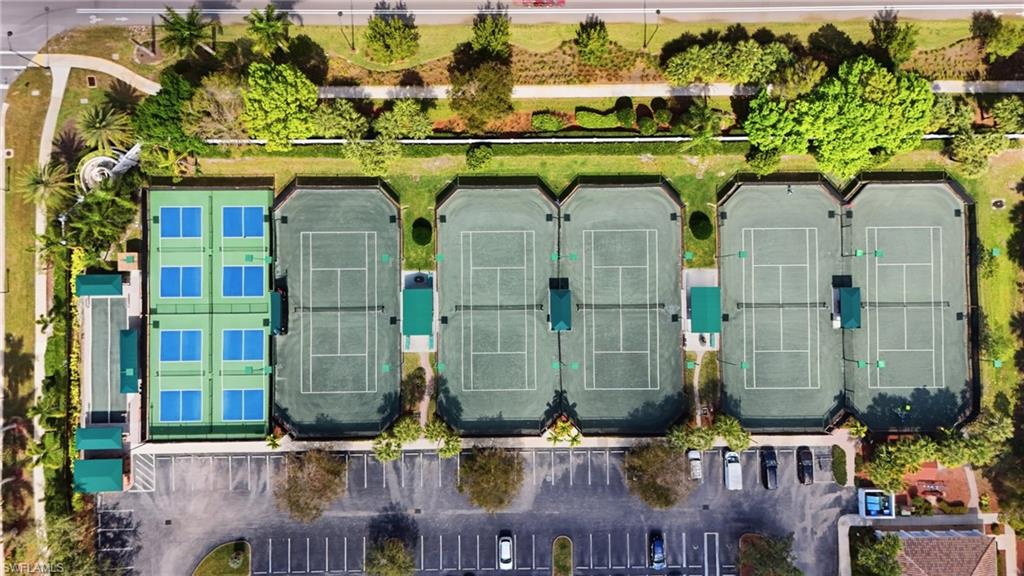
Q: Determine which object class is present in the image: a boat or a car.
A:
car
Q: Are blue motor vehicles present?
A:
Yes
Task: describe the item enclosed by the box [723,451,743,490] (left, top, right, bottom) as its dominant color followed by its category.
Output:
white vehicle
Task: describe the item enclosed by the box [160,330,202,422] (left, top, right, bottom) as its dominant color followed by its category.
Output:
blue sports court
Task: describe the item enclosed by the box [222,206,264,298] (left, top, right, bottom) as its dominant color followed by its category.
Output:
blue sports court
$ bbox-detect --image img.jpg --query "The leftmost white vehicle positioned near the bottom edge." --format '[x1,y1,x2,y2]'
[497,537,513,571]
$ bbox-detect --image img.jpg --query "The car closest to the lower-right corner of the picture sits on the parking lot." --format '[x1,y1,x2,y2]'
[796,447,814,483]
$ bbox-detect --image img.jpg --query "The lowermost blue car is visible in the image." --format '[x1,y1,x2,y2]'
[649,535,666,570]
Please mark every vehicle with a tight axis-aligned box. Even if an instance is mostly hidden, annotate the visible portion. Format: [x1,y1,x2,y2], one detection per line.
[497,537,513,571]
[686,449,702,480]
[796,447,814,483]
[760,448,778,487]
[649,535,666,570]
[723,451,743,490]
